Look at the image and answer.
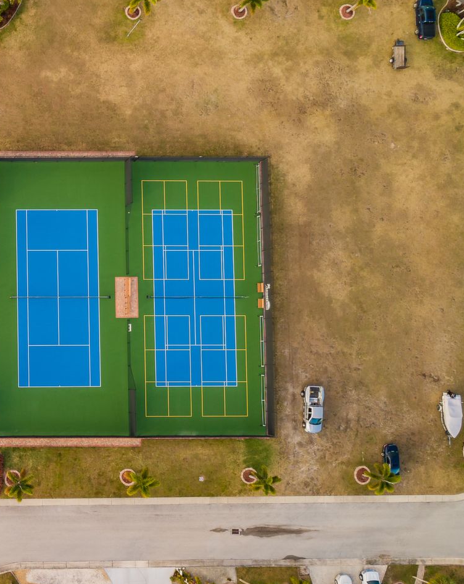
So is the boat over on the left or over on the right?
right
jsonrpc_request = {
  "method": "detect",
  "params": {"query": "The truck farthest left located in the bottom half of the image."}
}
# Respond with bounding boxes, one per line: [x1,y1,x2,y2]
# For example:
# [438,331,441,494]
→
[304,386,326,432]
